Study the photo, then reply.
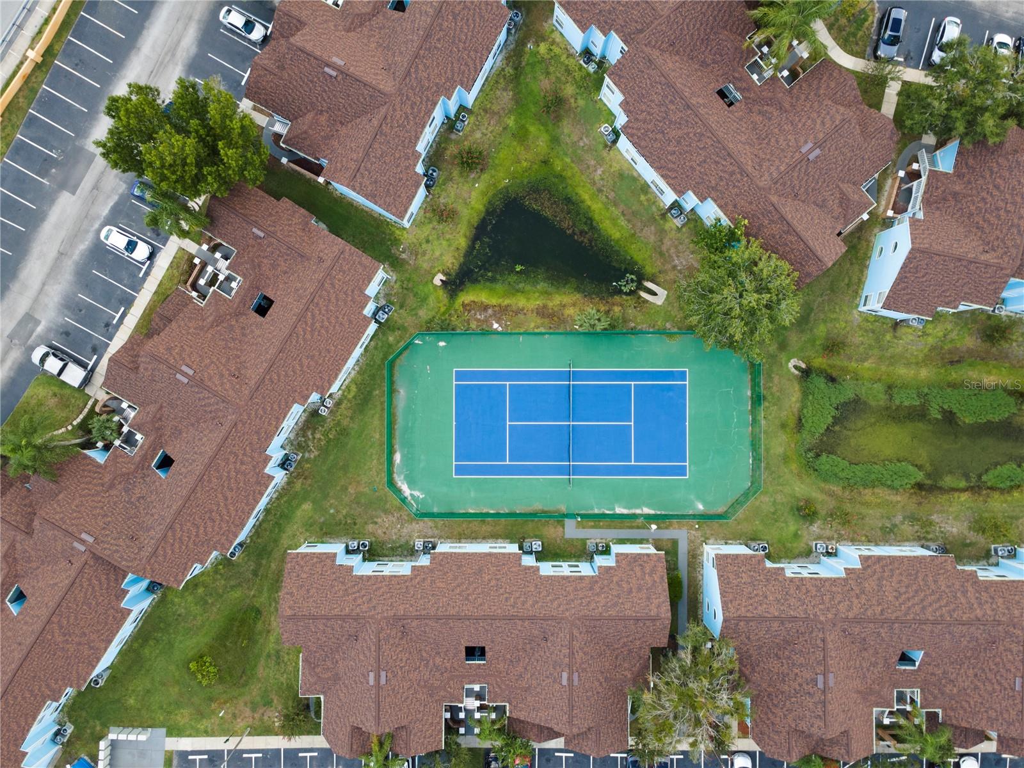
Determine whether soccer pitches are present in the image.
No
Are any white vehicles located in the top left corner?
Yes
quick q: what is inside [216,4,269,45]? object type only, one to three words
car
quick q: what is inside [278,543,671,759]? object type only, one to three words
building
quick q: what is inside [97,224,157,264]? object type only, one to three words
car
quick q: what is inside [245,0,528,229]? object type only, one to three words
building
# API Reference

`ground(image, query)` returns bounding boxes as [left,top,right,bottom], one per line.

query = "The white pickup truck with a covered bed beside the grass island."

[30,348,96,390]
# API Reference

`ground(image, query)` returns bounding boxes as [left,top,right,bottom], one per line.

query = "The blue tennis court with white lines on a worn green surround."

[391,334,752,514]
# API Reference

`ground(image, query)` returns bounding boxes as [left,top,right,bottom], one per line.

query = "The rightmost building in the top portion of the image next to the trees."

[861,110,1024,321]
